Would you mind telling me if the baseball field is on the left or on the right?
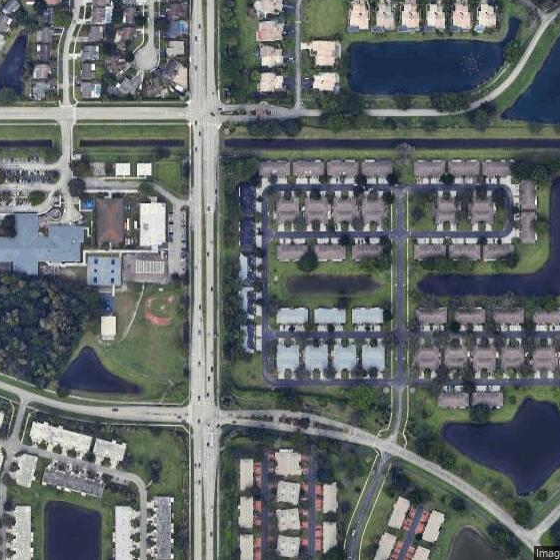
left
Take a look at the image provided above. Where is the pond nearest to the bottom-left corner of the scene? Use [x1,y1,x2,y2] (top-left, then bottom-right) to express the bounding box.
[45,502,102,560]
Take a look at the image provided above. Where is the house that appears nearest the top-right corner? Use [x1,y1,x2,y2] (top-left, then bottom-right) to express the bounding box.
[475,5,496,32]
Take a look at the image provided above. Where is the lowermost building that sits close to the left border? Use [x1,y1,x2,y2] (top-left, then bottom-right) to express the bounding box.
[14,506,32,560]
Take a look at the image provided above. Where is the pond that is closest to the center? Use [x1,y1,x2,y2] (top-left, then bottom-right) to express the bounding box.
[287,275,379,295]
